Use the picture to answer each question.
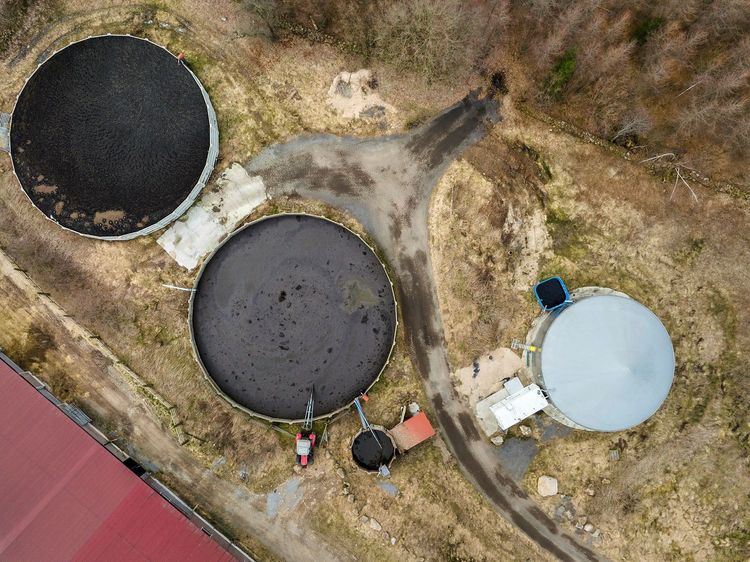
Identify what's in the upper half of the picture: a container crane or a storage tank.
storage tank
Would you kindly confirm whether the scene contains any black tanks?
Yes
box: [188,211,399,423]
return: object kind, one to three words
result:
storage tank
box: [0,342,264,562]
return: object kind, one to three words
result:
barn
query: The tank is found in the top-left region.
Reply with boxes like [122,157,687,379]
[8,35,218,239]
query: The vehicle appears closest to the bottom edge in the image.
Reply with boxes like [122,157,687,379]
[294,432,316,464]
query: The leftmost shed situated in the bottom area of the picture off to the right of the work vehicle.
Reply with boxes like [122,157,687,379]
[390,410,436,451]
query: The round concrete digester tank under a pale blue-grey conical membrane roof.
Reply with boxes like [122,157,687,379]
[522,285,675,432]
